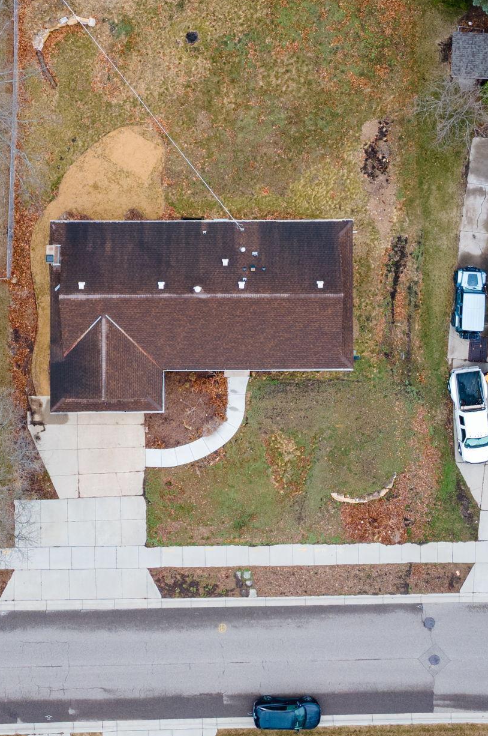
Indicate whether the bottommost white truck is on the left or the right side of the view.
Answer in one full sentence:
You can find the bottommost white truck on the right side of the picture.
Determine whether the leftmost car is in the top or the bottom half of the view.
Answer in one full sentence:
The bottom half of the photo is where the leftmost car is.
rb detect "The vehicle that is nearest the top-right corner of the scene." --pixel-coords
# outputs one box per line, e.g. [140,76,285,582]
[450,270,488,342]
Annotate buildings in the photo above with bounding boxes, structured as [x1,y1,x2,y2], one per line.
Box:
[46,214,360,414]
[446,32,488,84]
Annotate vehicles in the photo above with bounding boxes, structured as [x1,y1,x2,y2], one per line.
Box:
[252,696,320,736]
[450,270,488,342]
[446,364,488,463]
